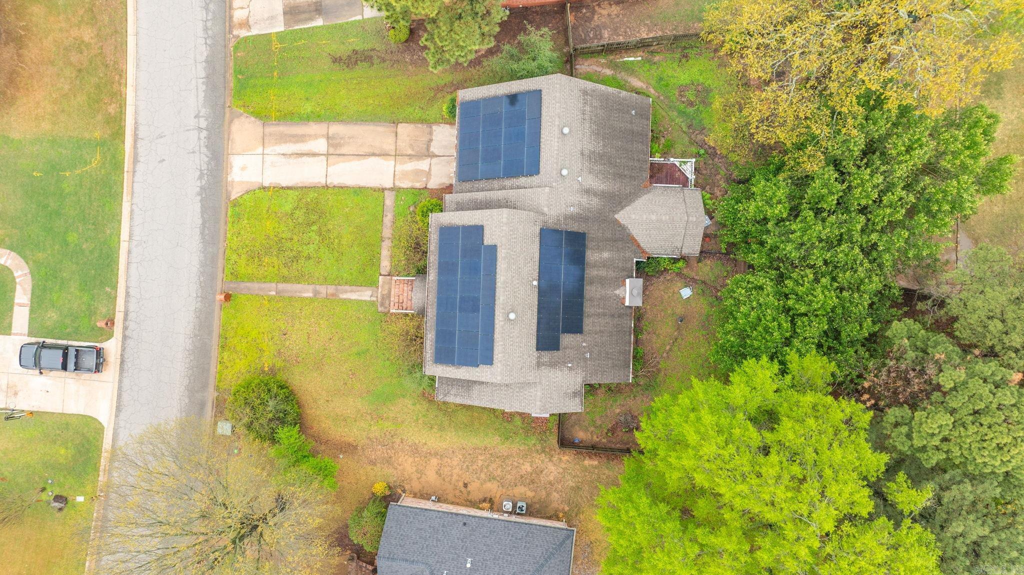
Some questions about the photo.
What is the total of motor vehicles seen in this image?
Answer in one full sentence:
Altogether the scene contains 1 motor vehicle.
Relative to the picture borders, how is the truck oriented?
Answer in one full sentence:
I'd say the truck is aligned horizontally in the picture.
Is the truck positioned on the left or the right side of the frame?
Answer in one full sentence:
The truck is on the left side of the image.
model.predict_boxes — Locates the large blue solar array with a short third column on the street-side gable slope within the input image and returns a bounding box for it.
[434,224,497,368]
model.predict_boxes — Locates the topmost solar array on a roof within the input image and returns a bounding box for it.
[458,89,541,182]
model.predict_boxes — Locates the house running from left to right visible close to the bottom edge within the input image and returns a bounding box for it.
[376,486,577,575]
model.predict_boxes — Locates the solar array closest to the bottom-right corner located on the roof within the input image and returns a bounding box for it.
[536,227,586,352]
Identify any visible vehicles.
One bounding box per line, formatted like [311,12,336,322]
[19,338,105,376]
